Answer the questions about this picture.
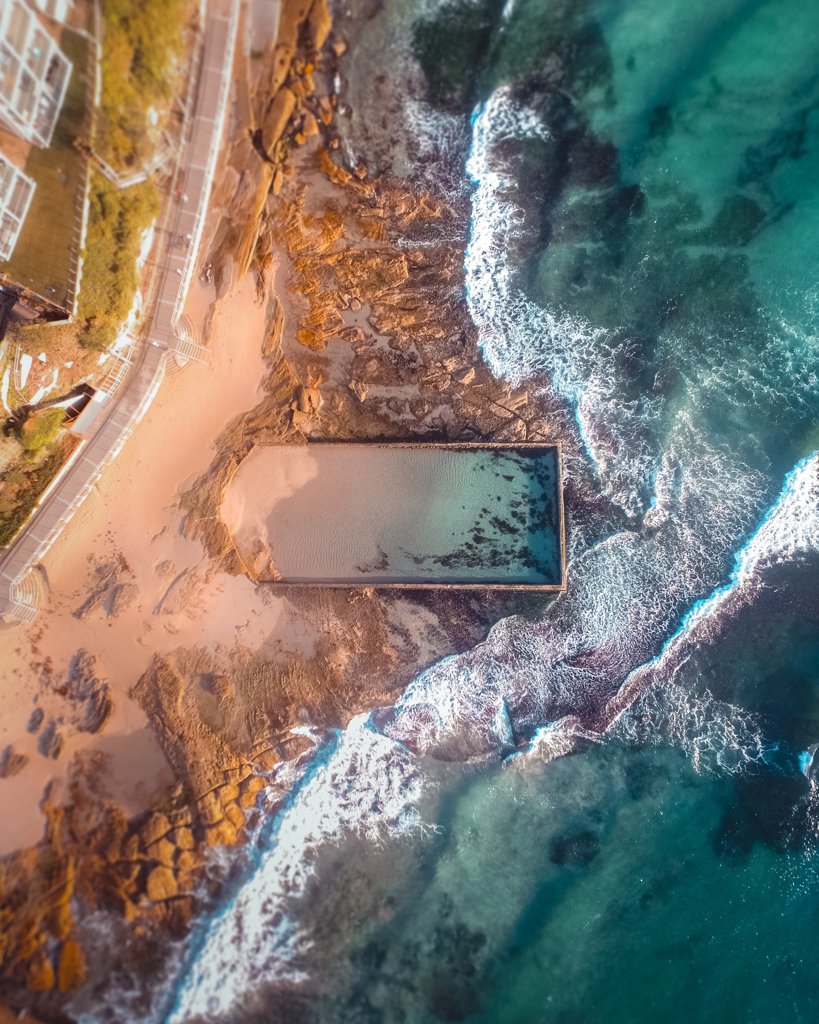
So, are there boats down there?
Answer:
No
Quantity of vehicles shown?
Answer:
0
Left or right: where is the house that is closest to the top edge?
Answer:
left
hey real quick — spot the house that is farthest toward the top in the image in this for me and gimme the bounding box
[0,284,40,348]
